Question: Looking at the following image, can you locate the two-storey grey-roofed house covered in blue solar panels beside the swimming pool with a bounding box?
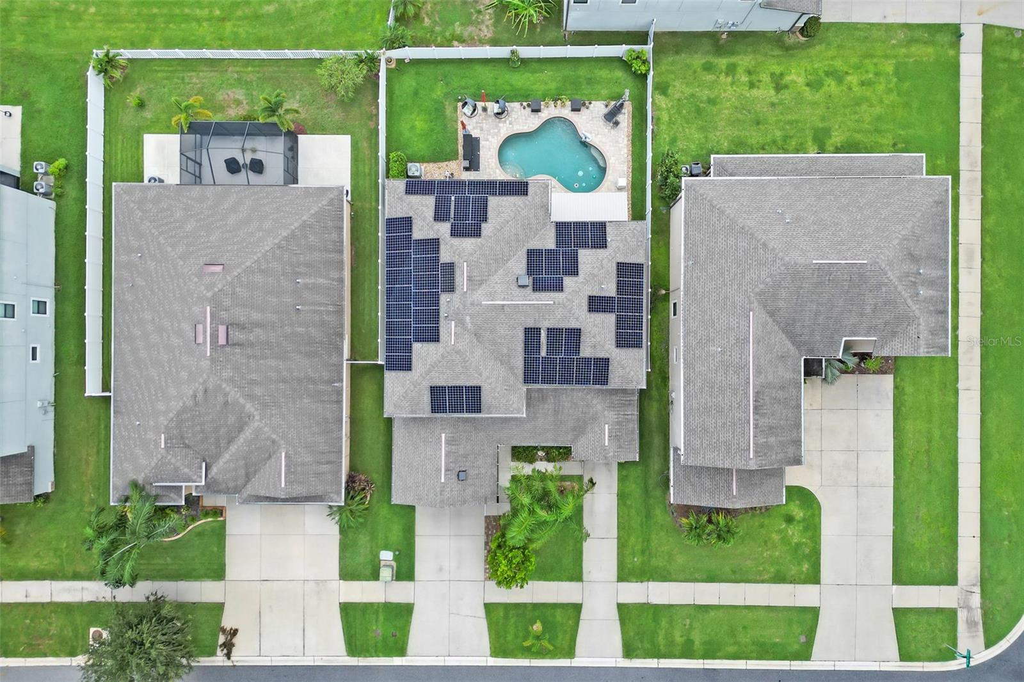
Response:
[385,178,646,509]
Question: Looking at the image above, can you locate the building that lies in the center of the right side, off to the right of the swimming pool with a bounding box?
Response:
[668,153,952,511]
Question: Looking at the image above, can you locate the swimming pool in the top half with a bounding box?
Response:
[494,112,612,191]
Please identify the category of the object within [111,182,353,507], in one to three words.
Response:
house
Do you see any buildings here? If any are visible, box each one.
[0,169,61,504]
[111,182,353,507]
[668,153,952,511]
[566,0,824,35]
[385,178,646,509]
